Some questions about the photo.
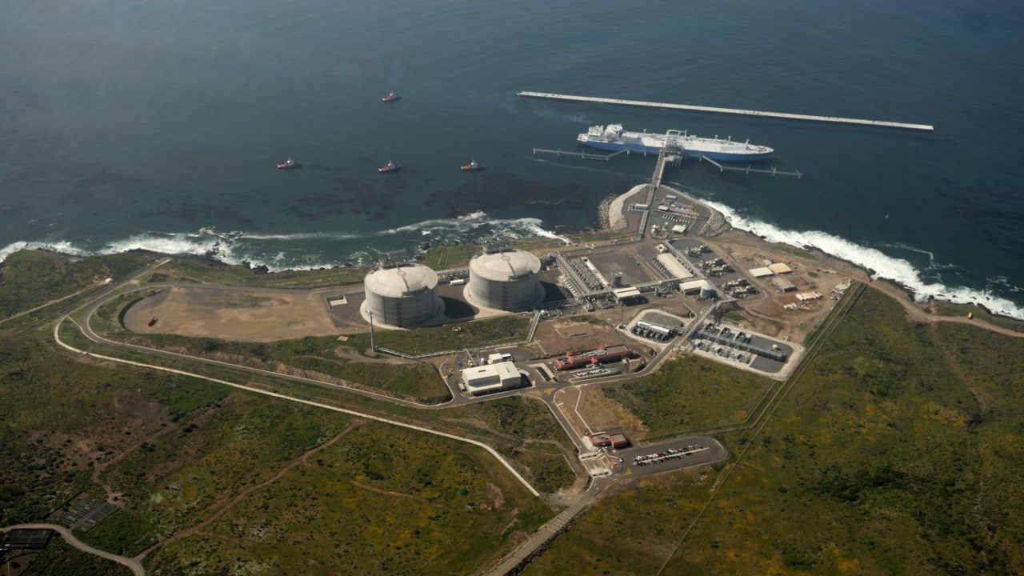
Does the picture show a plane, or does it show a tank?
tank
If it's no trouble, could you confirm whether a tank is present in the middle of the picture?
Yes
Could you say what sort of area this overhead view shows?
port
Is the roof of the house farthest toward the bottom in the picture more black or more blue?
black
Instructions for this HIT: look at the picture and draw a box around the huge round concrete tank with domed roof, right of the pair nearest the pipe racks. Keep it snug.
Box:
[465,235,546,312]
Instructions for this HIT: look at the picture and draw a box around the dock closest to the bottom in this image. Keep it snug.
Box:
[650,148,670,183]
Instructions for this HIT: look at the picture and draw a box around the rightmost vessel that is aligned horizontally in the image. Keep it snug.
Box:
[576,122,775,163]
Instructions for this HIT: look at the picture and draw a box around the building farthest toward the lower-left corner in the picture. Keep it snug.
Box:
[1,527,53,547]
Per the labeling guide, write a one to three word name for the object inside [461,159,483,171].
boat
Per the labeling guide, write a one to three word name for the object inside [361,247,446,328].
storage tank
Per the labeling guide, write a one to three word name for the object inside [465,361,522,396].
building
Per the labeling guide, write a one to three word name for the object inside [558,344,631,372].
building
